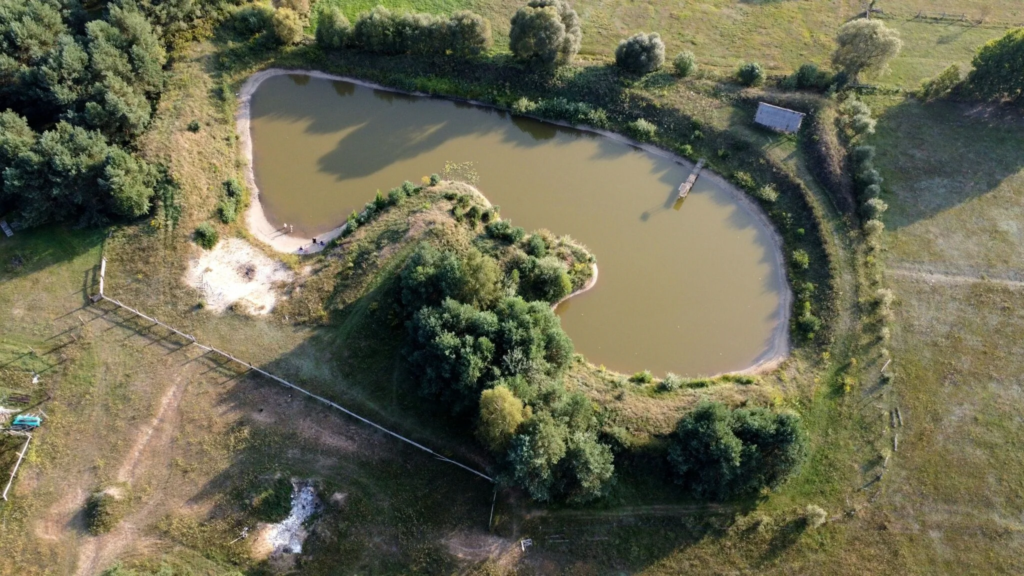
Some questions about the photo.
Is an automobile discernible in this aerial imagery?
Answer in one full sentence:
No, no automobile is visible in the scene.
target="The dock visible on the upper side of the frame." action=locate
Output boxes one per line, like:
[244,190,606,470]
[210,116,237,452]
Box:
[678,159,705,202]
